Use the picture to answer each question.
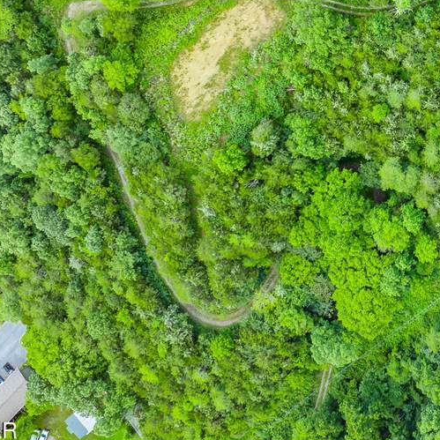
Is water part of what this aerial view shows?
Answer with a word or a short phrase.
No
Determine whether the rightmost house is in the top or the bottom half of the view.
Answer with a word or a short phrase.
bottom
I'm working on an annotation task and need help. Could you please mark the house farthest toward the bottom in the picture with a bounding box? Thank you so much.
[62,407,96,440]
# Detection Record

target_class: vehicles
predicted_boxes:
[39,429,50,440]
[0,359,13,375]
[30,430,40,440]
